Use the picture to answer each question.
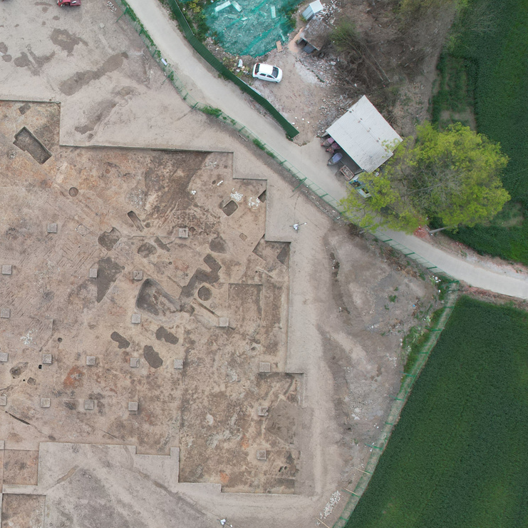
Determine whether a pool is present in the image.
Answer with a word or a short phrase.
No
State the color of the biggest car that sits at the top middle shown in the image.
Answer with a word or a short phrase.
white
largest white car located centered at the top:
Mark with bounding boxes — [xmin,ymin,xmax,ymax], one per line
[250,63,284,83]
